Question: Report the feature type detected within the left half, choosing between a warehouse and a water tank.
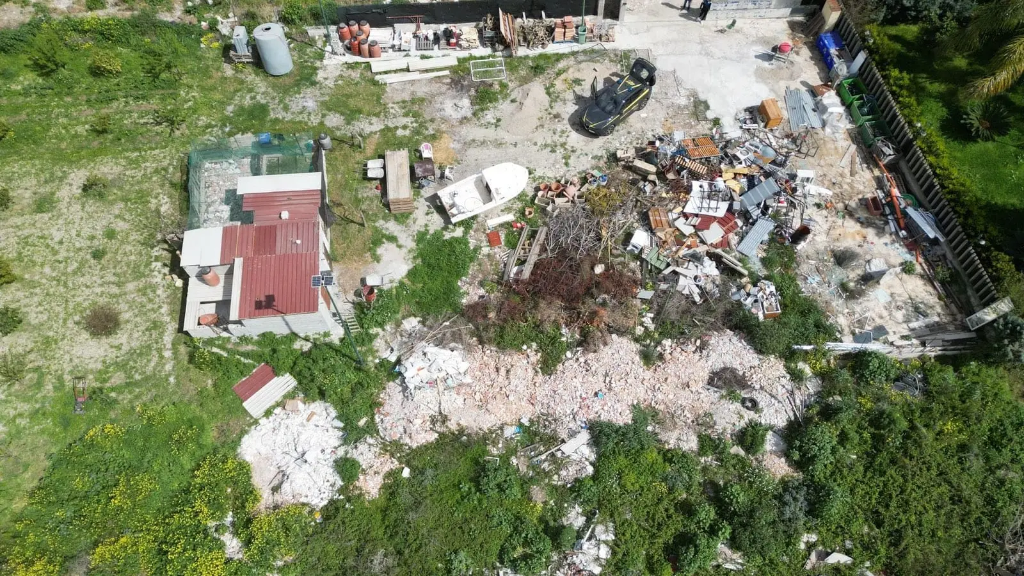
water tank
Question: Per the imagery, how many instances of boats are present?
1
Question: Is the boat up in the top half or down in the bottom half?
top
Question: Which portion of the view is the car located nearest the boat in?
top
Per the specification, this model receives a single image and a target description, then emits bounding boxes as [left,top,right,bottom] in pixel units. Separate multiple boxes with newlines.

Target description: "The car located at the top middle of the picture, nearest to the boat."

[577,52,664,139]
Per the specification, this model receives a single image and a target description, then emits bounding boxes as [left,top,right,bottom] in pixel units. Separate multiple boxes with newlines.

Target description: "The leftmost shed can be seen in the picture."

[181,172,331,339]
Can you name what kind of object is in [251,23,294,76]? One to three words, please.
water tank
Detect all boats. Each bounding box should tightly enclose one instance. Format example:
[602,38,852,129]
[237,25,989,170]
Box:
[437,169,526,228]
